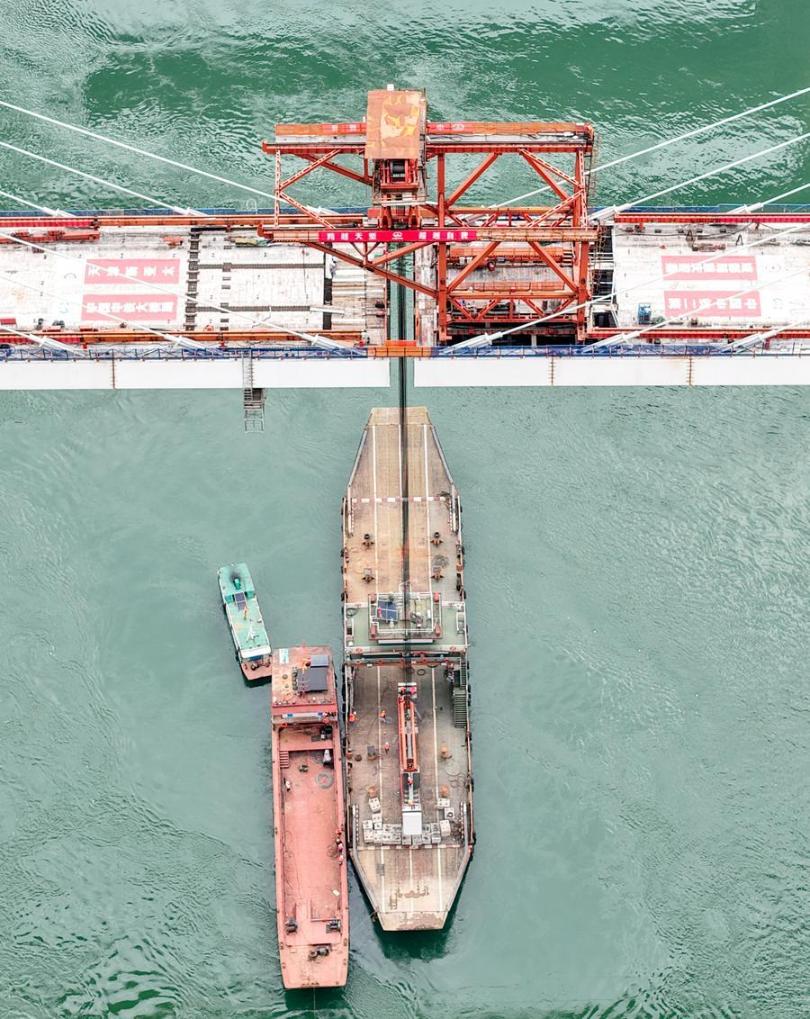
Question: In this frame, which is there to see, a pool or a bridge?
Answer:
bridge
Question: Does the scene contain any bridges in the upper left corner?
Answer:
Yes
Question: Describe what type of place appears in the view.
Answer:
port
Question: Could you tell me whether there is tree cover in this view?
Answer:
No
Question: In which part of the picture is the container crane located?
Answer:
top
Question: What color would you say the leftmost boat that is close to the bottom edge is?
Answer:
pink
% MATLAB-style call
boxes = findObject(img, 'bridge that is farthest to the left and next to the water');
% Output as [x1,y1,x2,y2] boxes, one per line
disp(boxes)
[0,99,390,388]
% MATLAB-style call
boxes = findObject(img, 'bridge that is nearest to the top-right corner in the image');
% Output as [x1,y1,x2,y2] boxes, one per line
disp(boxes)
[415,84,810,388]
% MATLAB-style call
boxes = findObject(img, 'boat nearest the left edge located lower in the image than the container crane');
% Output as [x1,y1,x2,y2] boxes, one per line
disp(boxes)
[219,564,271,684]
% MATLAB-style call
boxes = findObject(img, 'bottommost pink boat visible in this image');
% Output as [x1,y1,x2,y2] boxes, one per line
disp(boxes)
[270,637,347,1018]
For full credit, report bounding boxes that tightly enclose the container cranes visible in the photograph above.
[254,116,614,340]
